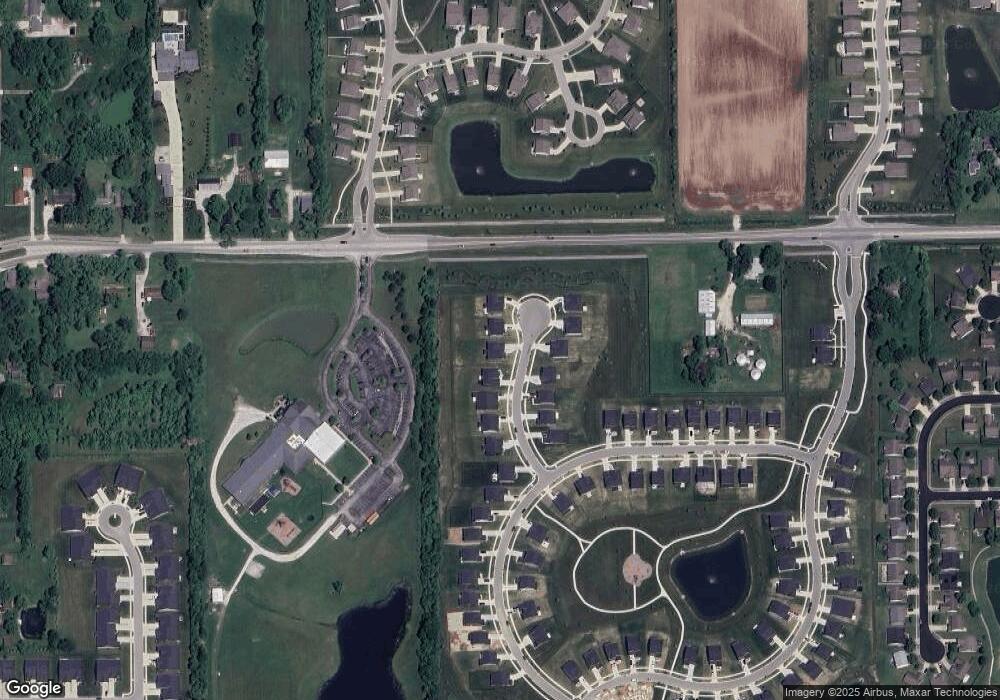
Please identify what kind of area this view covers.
residential area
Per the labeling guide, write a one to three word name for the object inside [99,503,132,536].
roundabout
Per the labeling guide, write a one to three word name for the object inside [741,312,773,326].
barn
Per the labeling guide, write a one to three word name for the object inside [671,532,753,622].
pond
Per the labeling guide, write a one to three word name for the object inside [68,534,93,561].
house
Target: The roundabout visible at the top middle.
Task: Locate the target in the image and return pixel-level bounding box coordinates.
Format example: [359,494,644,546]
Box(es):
[565,105,604,147]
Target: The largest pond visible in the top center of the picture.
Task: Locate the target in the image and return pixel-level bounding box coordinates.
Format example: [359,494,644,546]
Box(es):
[450,121,655,196]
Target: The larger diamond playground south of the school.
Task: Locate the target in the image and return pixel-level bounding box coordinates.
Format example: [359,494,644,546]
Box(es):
[268,514,302,546]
